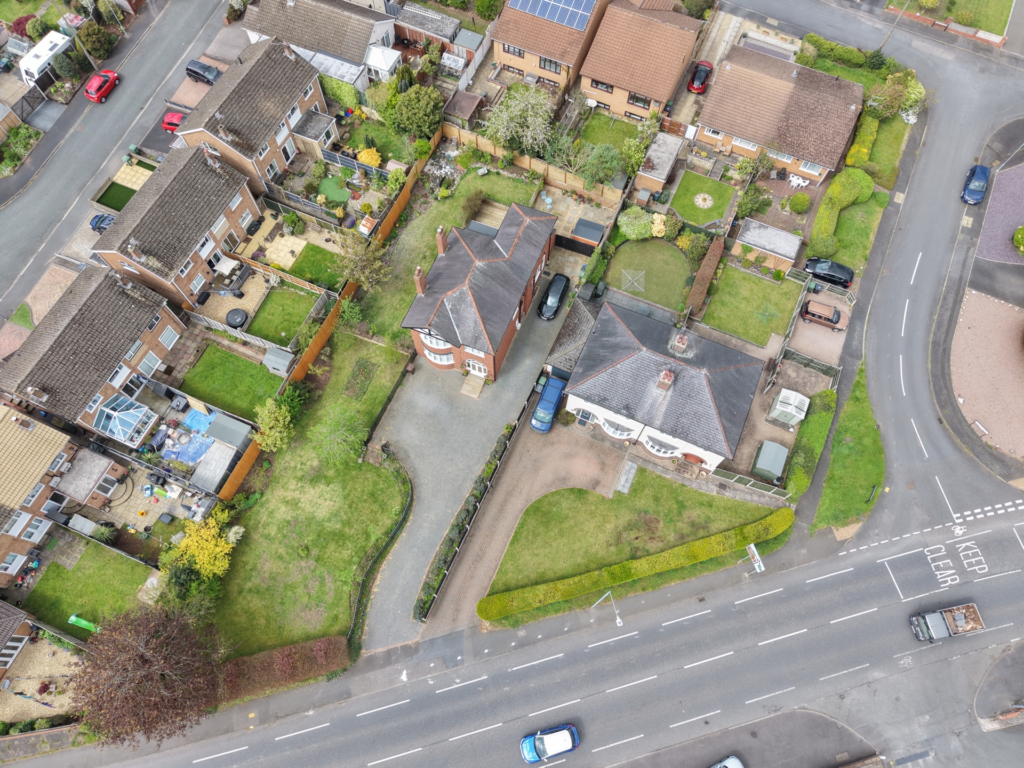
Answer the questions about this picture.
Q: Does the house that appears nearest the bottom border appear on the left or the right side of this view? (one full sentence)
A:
You can find the house that appears nearest the bottom border on the left side of the picture.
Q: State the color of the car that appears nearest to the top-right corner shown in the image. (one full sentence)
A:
The car that appears nearest to the top-right corner looks blue in the image.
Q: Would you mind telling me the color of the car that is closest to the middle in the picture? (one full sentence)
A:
The color of the car that is closest to the middle is blue.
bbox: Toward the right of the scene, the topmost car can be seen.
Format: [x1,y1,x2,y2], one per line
[688,63,714,95]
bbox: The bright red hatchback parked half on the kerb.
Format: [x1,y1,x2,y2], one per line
[85,72,122,102]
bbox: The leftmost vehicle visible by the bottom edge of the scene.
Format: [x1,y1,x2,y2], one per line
[519,723,580,763]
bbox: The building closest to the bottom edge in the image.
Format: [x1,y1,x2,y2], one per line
[0,595,42,680]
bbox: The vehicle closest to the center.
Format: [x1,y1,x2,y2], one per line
[532,375,566,430]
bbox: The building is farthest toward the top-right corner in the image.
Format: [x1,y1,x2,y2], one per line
[696,43,882,185]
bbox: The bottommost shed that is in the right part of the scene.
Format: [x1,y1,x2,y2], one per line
[750,441,787,482]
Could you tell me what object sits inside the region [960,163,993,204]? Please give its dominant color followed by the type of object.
blue car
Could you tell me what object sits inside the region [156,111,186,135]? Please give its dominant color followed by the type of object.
red car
